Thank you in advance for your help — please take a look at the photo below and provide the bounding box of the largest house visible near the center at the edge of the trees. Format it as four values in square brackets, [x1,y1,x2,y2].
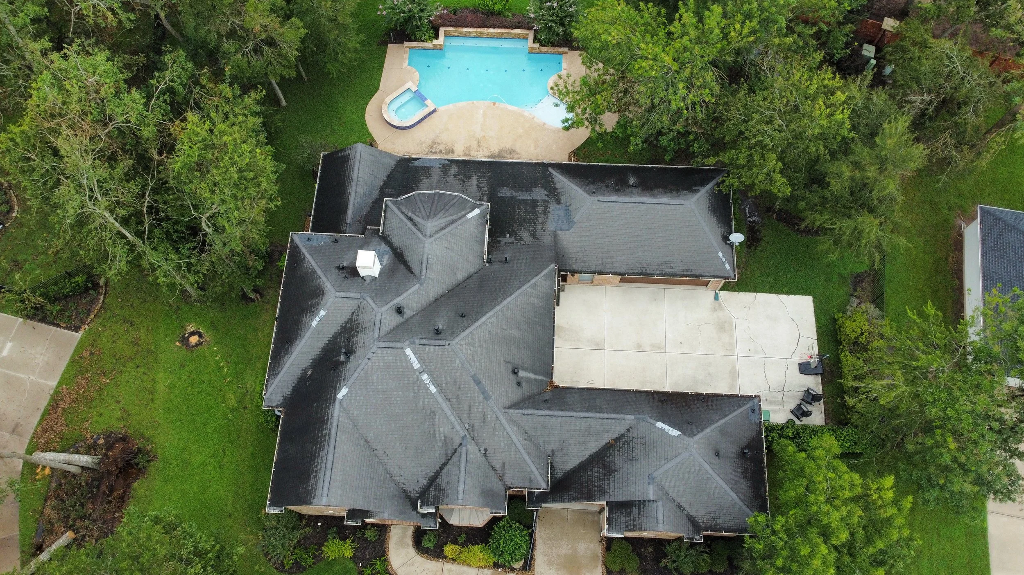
[261,141,774,545]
